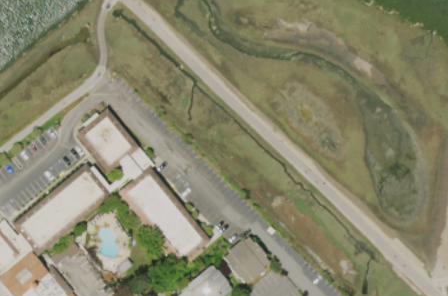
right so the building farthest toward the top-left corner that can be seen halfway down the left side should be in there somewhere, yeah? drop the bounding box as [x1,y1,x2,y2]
[78,108,140,174]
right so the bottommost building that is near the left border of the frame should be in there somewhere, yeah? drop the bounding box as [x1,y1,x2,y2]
[0,254,74,296]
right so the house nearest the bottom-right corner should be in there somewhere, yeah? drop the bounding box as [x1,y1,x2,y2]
[224,238,270,284]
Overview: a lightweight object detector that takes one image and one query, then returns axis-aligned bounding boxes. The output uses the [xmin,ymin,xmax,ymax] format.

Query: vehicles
[215,219,224,228]
[48,130,56,139]
[180,188,192,198]
[20,152,29,161]
[62,156,72,166]
[44,171,54,182]
[75,146,84,156]
[312,276,322,286]
[70,150,79,160]
[38,136,48,146]
[4,166,14,174]
[220,224,230,232]
[158,160,167,169]
[228,235,238,244]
